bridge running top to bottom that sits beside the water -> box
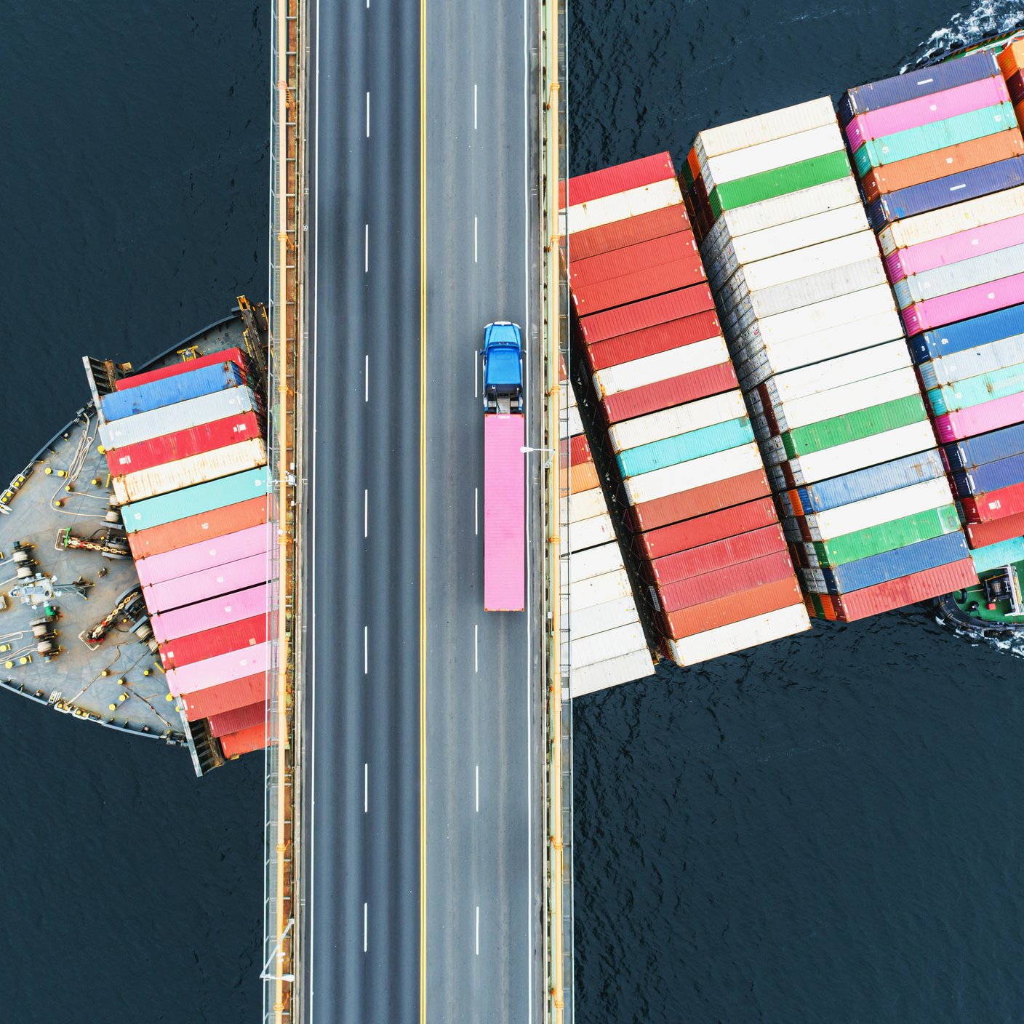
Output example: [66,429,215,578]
[265,0,575,1024]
